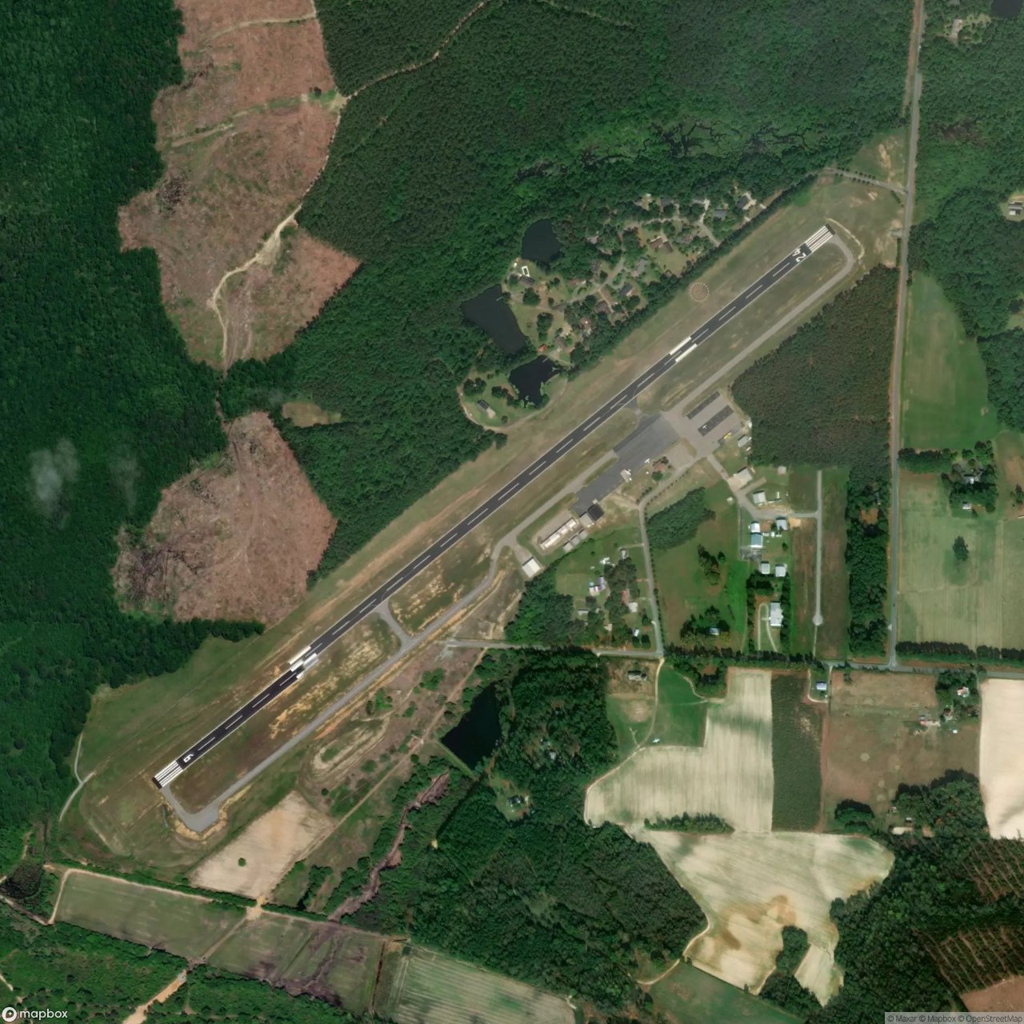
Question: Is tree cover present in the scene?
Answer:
Yes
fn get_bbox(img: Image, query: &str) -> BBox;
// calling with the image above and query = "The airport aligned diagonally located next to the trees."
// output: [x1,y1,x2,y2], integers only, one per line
[153,224,854,831]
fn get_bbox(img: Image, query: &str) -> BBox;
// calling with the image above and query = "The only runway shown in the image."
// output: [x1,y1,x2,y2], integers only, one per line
[153,224,835,788]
